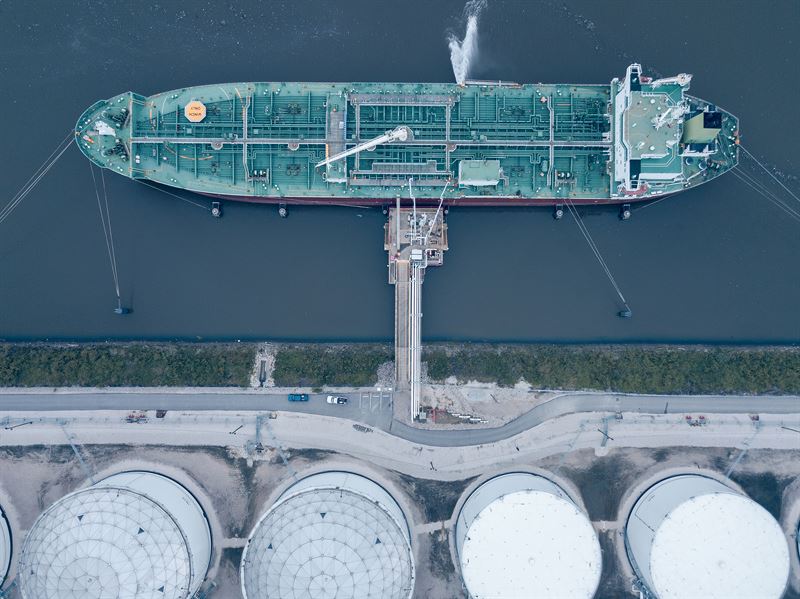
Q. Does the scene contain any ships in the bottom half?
No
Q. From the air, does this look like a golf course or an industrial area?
industrial area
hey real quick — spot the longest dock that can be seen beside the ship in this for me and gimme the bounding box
[384,208,448,421]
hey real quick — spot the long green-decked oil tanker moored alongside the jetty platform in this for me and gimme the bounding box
[68,65,740,205]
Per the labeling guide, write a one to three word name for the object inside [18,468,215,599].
storage tank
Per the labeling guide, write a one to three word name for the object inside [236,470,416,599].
storage tank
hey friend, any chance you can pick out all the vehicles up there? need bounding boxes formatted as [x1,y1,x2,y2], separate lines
[327,396,348,405]
[288,394,309,402]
